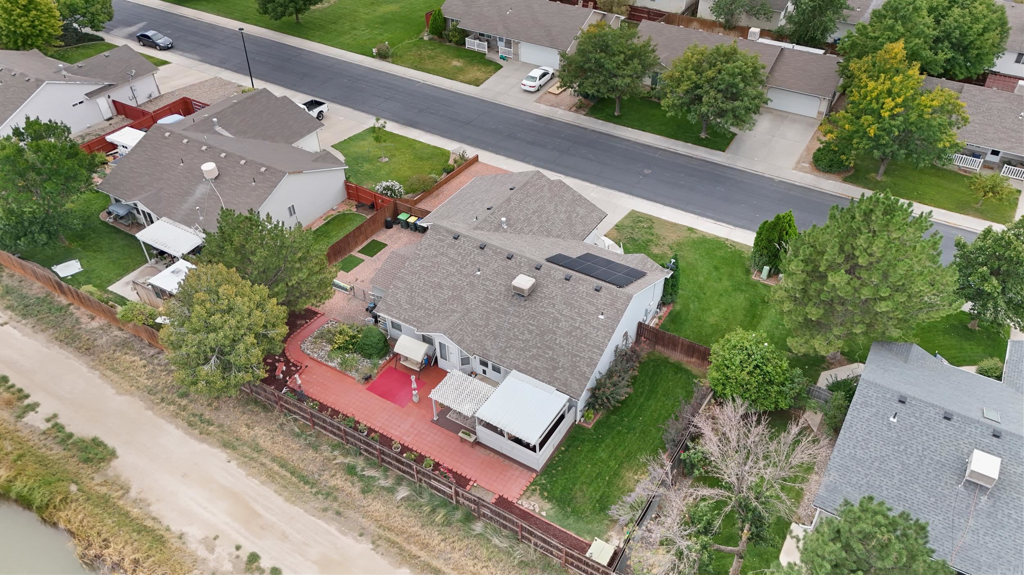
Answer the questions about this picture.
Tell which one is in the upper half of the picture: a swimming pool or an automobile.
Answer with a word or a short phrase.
automobile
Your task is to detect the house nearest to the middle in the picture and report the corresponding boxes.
[368,173,672,427]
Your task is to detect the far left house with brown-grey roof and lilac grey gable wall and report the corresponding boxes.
[0,45,162,144]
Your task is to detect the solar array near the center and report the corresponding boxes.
[547,249,646,286]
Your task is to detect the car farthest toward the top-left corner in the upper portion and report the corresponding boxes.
[135,31,173,49]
